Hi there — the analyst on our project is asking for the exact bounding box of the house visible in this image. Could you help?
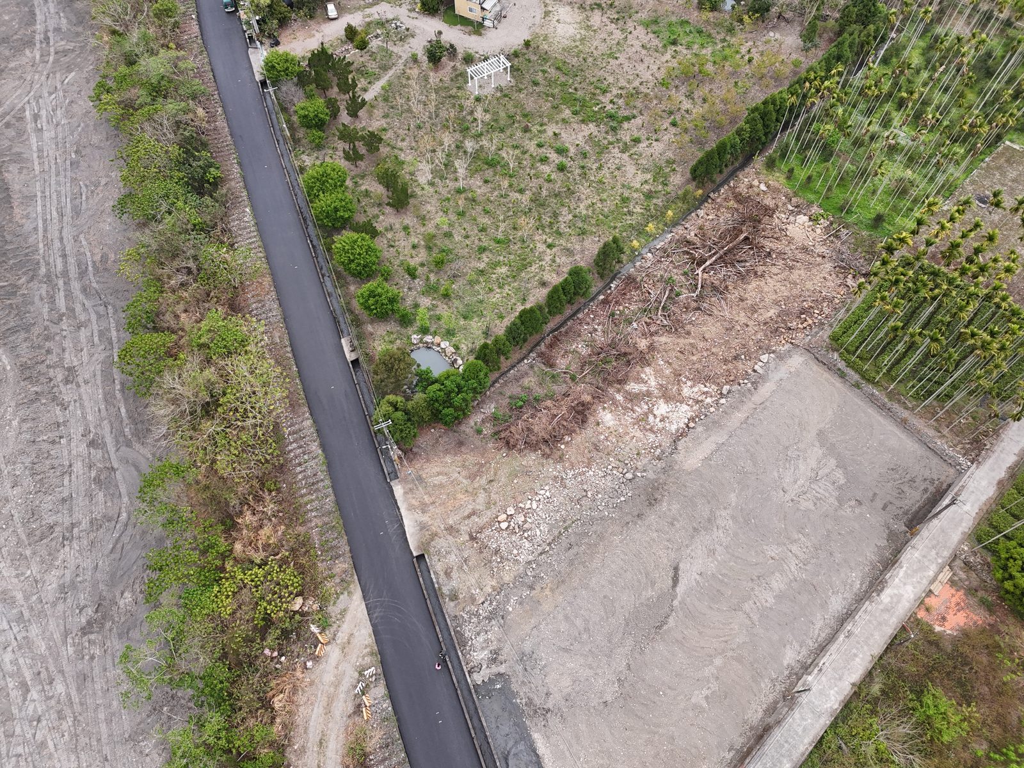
[454,0,520,30]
